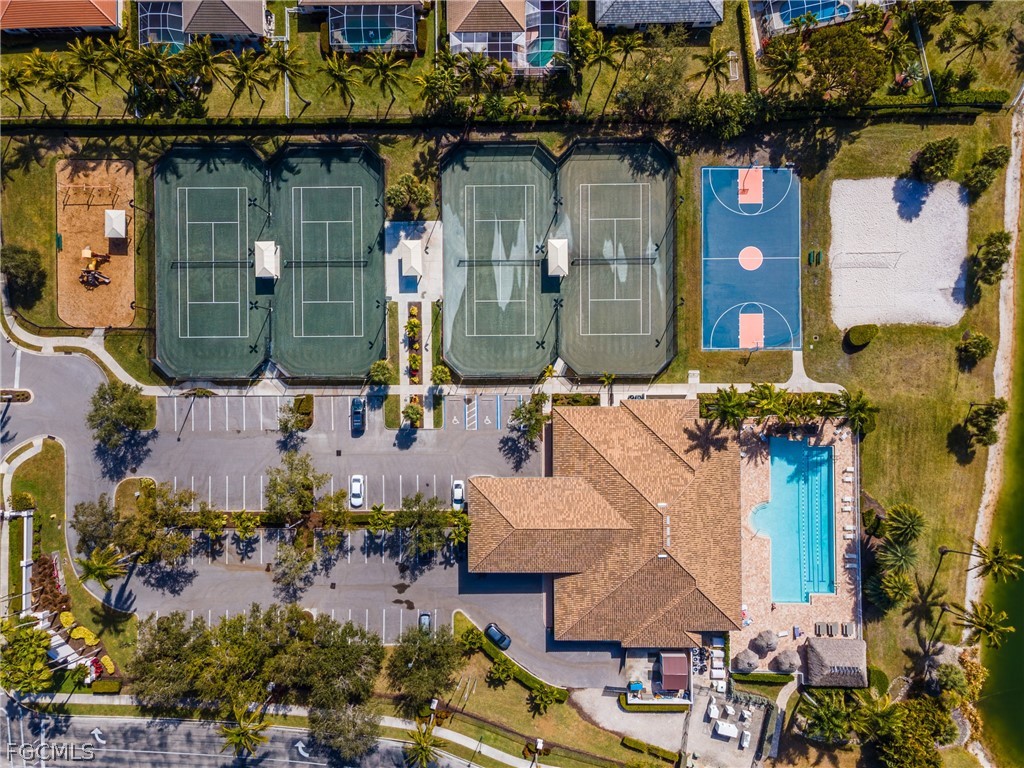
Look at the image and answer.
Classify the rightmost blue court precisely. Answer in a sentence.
In the photo, the rightmost blue court shows up as a basketball court.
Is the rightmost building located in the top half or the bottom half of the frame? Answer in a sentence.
You can find the rightmost building in the bottom half.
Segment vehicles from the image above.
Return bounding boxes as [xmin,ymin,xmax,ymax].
[451,481,465,512]
[418,612,431,631]
[348,476,363,507]
[483,624,511,652]
[349,398,364,433]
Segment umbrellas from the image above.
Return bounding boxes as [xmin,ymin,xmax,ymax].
[753,628,780,655]
[773,647,800,674]
[732,647,758,673]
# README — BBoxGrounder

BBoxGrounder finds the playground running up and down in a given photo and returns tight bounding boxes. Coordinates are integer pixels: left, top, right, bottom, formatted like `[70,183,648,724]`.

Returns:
[56,158,135,329]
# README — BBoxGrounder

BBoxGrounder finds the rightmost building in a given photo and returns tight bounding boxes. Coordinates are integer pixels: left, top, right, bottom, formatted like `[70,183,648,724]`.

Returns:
[805,636,870,687]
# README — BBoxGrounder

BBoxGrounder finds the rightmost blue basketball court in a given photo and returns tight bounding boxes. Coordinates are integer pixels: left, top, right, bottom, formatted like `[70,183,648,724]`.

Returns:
[701,166,801,351]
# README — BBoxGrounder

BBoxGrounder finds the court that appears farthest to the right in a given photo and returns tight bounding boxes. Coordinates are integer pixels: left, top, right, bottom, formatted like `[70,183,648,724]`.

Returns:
[829,177,969,331]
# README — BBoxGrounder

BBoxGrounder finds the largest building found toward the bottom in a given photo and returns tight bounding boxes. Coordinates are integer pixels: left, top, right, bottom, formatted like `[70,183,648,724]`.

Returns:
[468,400,743,648]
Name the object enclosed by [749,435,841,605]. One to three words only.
swimming pool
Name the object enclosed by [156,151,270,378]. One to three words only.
tennis court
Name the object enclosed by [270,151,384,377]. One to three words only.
tennis court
